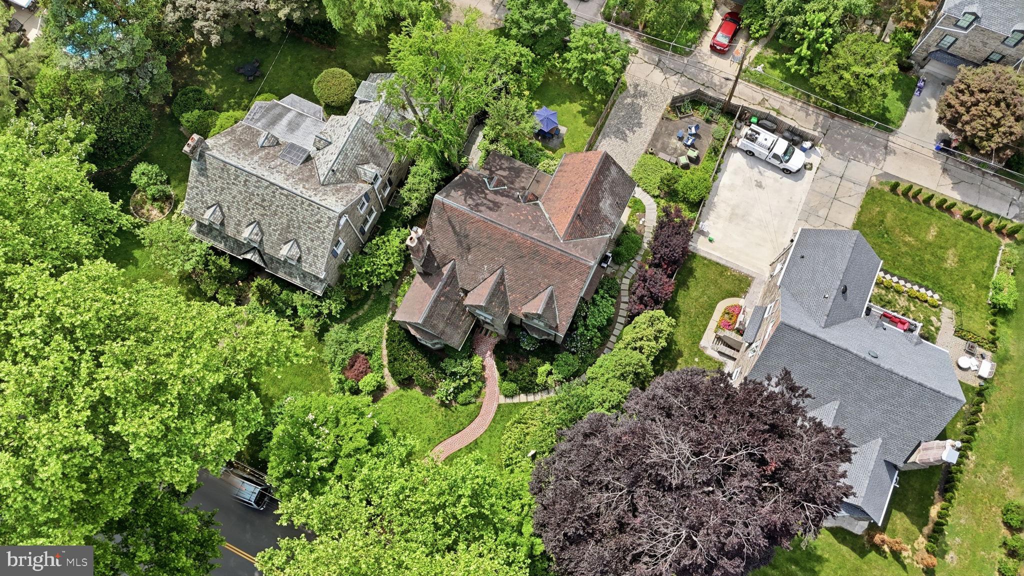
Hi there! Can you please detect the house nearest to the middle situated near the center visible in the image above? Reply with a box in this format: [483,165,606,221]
[391,150,639,353]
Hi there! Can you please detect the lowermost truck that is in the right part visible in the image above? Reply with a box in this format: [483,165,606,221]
[733,129,807,177]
